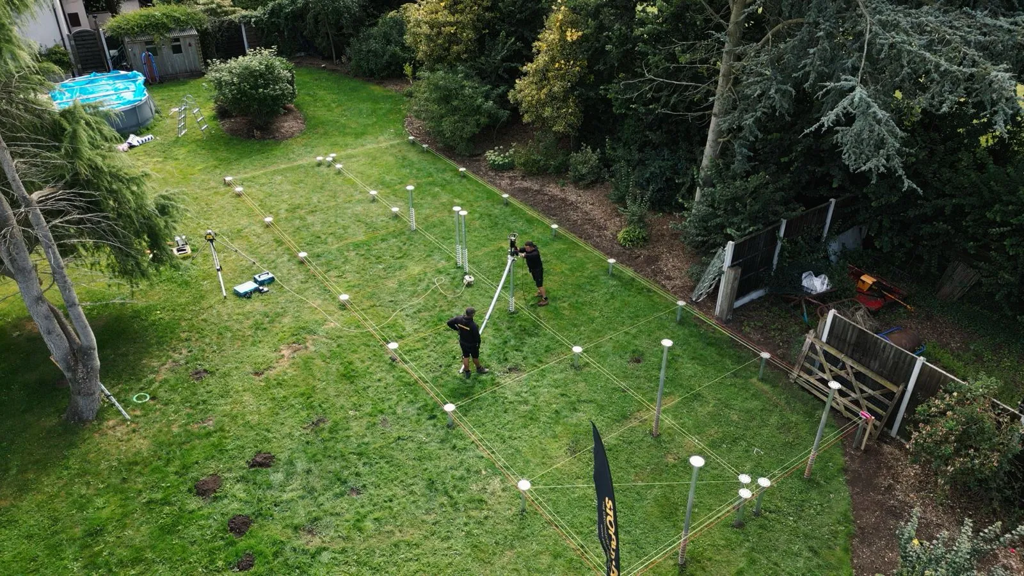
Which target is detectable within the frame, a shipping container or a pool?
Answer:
pool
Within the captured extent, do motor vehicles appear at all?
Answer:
No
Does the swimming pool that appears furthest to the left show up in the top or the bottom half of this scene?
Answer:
top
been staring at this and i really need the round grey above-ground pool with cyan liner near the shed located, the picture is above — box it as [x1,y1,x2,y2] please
[45,68,172,133]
